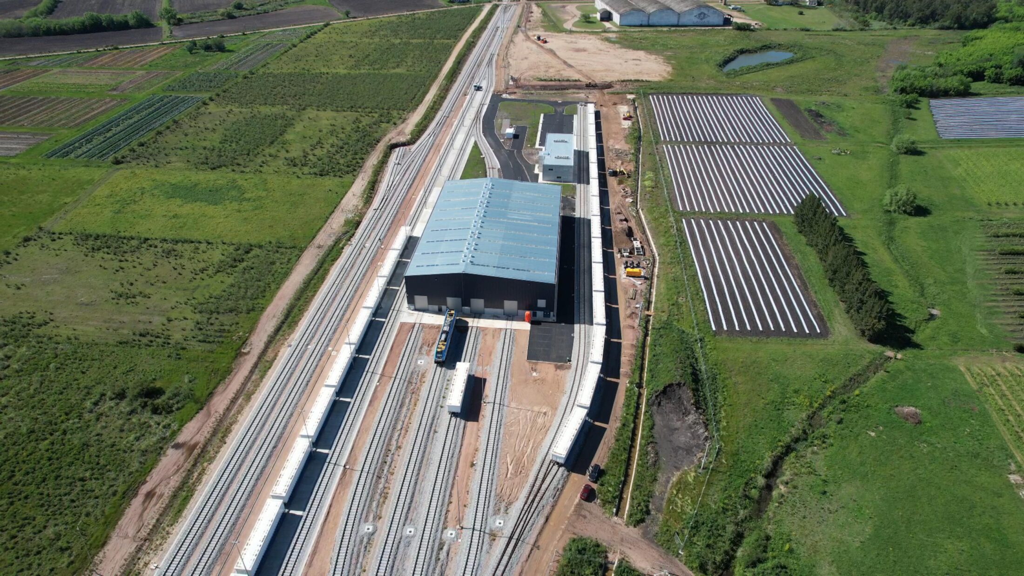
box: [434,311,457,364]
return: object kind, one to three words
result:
rail car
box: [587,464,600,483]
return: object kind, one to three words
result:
vehicle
